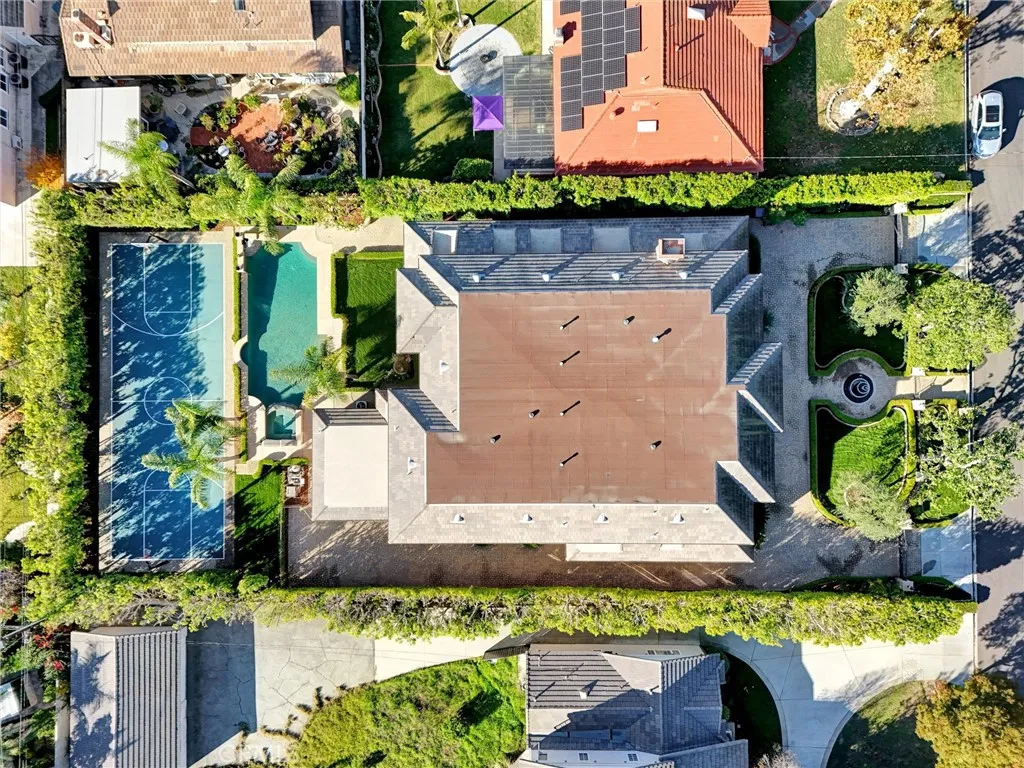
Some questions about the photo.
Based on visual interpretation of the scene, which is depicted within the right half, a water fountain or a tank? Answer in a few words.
water fountain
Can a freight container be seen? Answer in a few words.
No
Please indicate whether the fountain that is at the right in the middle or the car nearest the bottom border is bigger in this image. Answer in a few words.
the car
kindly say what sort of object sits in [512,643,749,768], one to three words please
house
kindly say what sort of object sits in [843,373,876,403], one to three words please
fountain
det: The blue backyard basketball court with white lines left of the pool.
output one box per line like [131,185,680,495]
[98,231,234,569]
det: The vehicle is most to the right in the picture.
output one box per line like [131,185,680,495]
[967,94,1005,159]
